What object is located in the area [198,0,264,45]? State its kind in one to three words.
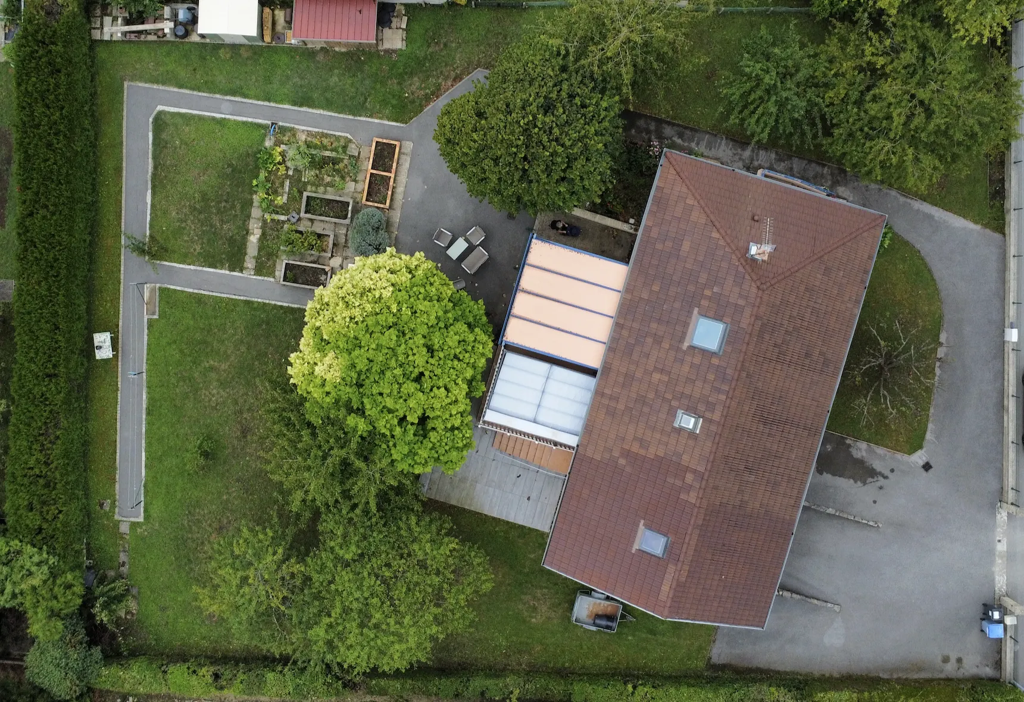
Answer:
shed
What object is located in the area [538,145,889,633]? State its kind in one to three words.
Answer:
house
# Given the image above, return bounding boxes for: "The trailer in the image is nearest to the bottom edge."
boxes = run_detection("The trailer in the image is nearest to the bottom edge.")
[571,593,639,638]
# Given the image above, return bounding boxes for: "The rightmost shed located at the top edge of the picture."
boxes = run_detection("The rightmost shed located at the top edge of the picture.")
[290,0,378,47]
